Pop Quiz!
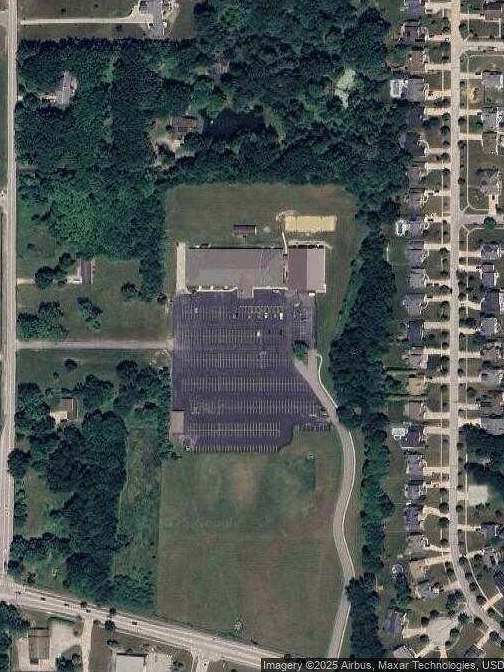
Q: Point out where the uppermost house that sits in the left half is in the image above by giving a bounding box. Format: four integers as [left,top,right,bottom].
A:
[141,0,167,37]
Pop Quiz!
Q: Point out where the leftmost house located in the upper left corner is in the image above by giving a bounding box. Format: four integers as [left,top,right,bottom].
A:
[59,70,71,104]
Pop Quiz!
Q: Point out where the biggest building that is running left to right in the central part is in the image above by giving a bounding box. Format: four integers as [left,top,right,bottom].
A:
[188,248,326,296]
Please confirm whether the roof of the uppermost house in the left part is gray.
Yes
